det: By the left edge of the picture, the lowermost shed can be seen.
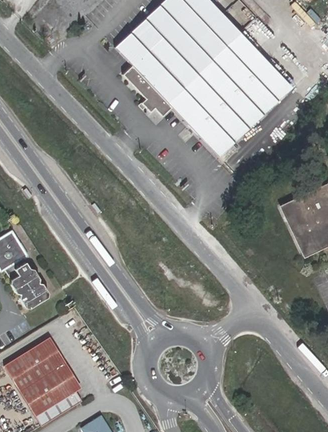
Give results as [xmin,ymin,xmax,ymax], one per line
[4,336,88,424]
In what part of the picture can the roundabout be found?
bottom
